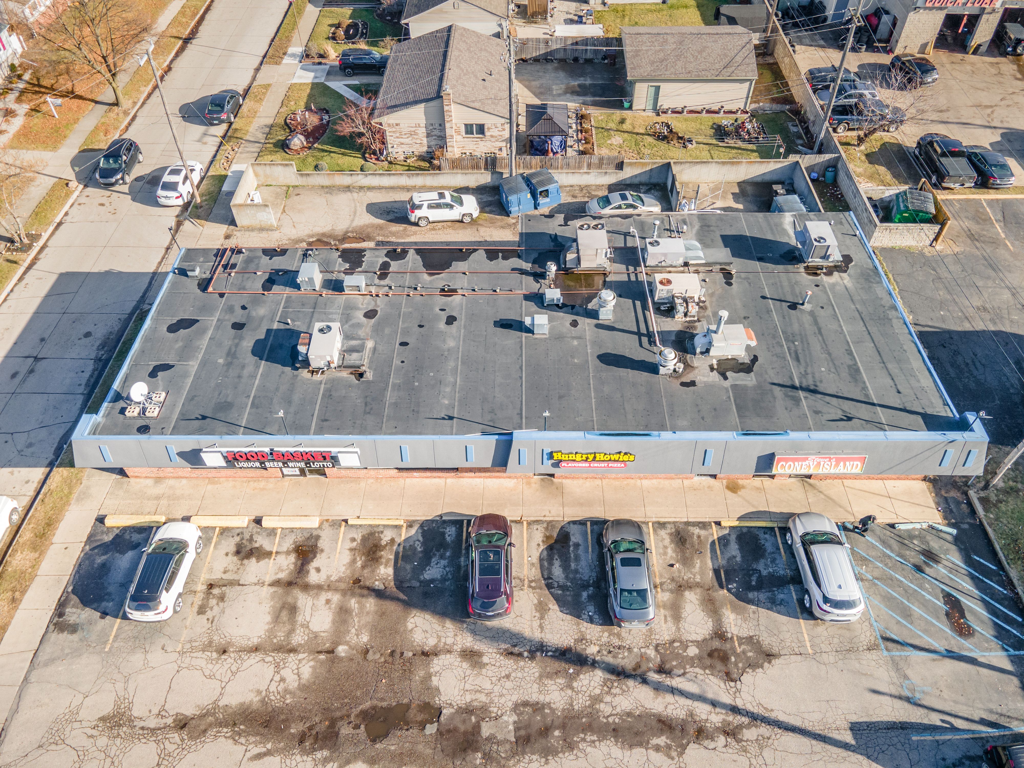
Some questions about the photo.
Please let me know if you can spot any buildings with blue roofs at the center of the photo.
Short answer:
No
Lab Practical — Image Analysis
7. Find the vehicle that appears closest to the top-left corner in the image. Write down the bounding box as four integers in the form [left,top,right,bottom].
[98,135,142,183]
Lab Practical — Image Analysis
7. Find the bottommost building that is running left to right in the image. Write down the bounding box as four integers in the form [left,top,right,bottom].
[70,214,990,478]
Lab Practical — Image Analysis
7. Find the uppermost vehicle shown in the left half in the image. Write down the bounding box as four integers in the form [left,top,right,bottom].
[339,49,389,76]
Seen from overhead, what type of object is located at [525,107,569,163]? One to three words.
gazebo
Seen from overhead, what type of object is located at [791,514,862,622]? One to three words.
car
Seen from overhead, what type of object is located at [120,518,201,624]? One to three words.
car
